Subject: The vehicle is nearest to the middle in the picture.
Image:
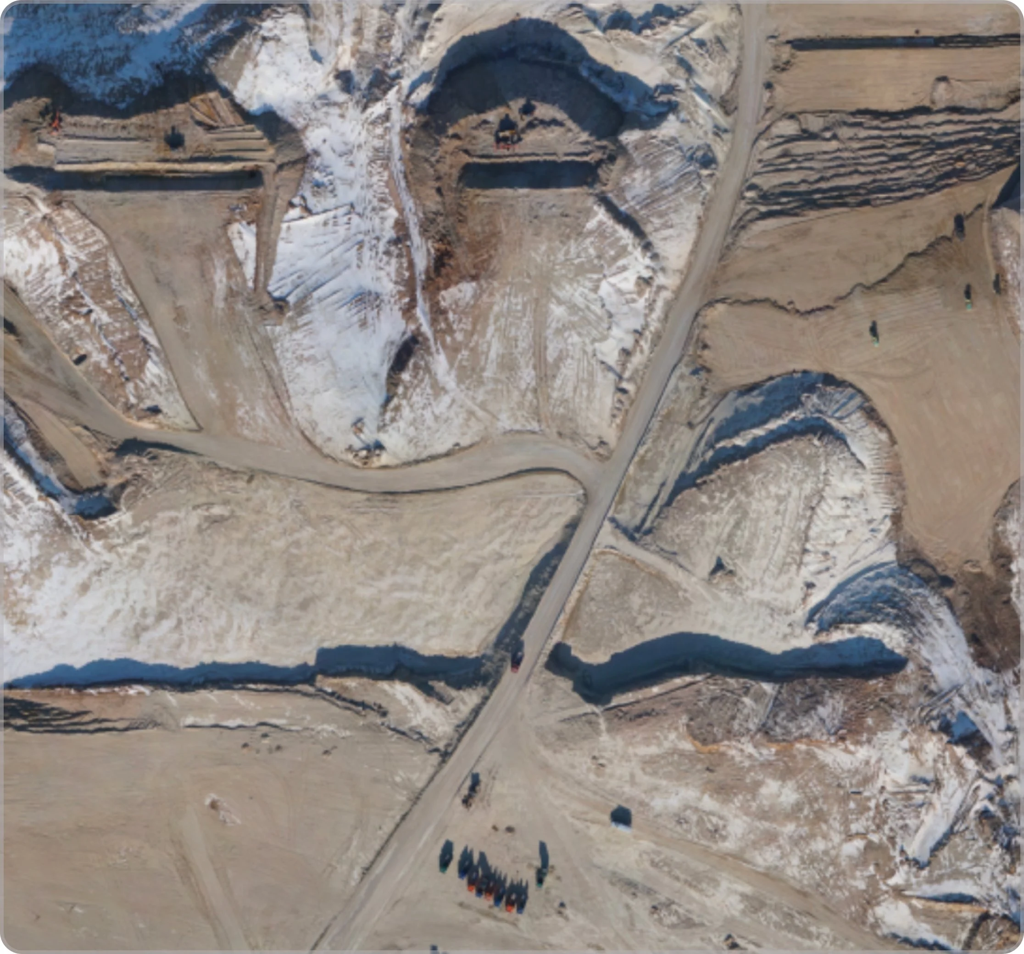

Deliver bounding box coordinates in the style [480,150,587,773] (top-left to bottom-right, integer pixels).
[512,652,524,674]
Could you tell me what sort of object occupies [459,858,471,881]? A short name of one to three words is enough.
vehicle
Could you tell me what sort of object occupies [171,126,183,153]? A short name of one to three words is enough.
vehicle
